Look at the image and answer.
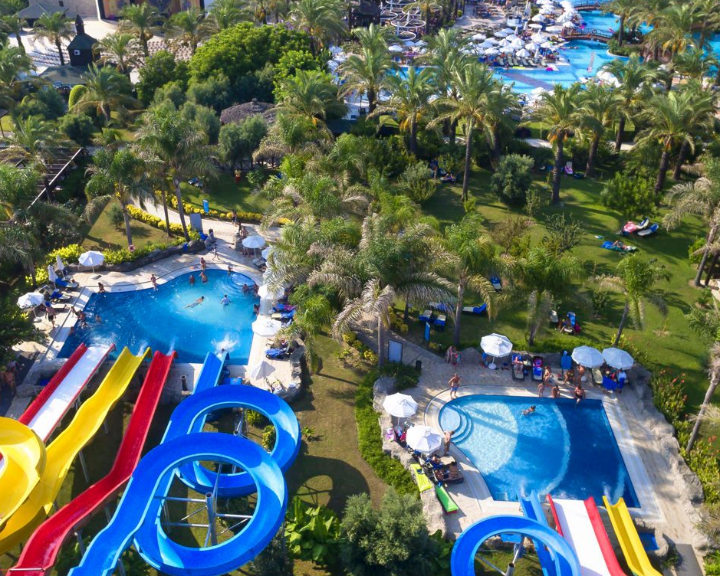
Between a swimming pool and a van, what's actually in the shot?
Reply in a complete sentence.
The one in the frame is a swimming pool.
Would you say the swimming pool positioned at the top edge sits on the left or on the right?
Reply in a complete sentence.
The swimming pool positioned at the top edge is on the right side of the image.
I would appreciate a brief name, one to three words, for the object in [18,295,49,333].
umbrella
